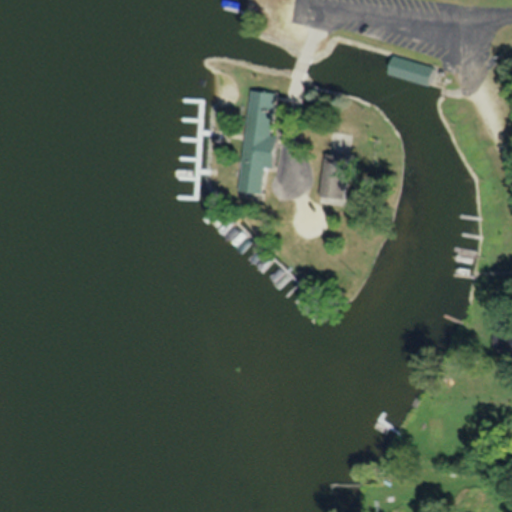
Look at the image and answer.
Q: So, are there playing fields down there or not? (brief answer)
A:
No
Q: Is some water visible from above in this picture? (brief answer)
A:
Yes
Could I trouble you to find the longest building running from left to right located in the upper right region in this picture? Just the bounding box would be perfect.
[387,56,434,86]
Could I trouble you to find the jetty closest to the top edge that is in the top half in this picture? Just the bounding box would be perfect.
[176,98,210,202]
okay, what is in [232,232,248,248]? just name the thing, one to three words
boat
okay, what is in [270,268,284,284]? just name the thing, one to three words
boat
